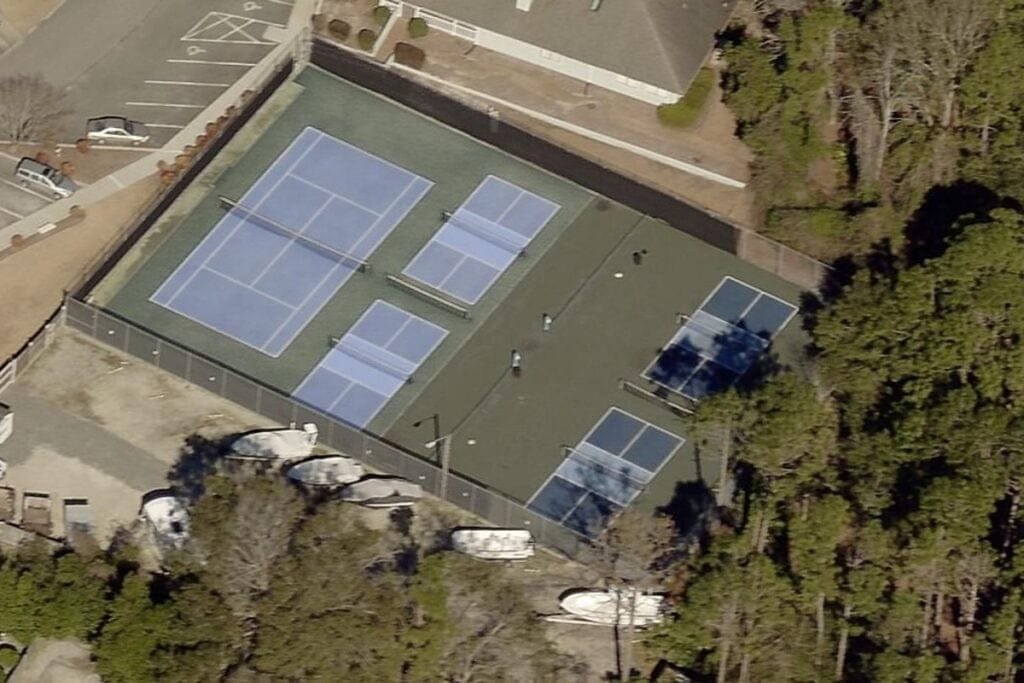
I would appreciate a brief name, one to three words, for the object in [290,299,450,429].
sports court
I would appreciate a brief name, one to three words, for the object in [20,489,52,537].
trailer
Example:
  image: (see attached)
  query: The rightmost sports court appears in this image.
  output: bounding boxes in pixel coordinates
[642,277,799,407]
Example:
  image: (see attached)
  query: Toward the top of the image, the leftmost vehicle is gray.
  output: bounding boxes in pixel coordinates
[12,154,80,199]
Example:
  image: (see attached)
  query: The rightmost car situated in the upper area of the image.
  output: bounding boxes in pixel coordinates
[87,118,150,145]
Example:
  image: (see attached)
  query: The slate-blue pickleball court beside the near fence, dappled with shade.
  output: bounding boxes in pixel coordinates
[525,408,684,539]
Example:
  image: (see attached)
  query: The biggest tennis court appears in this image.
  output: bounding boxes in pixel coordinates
[151,127,435,356]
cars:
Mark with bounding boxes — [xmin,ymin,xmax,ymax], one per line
[87,118,150,145]
[12,154,80,199]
